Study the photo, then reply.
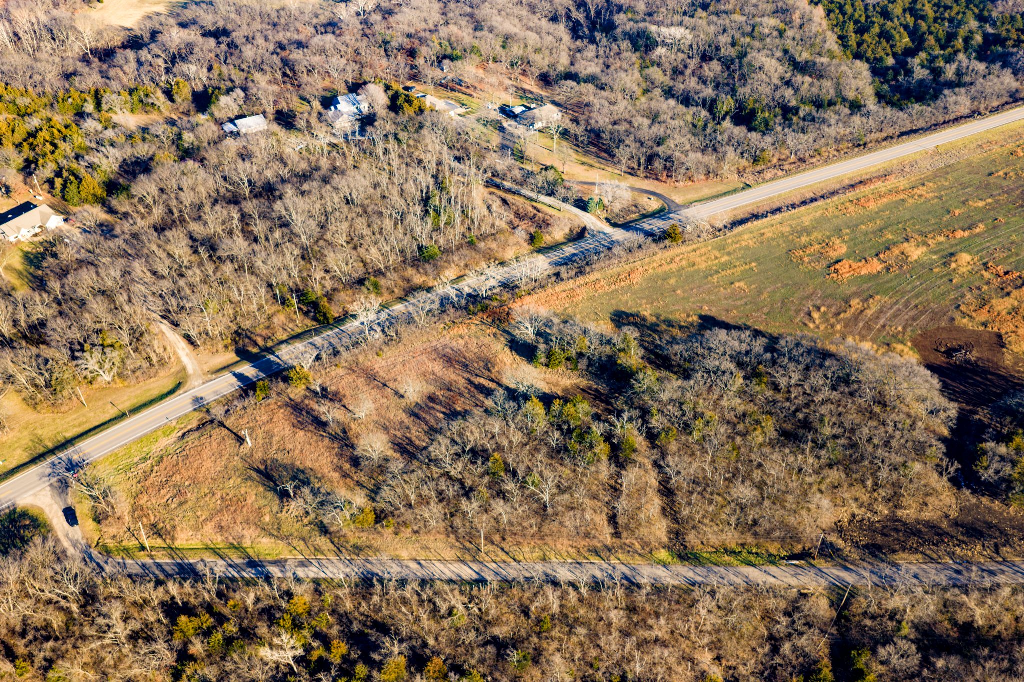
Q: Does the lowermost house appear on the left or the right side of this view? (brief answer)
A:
left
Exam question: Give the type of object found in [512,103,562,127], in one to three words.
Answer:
house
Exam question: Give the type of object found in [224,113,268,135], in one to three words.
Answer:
barn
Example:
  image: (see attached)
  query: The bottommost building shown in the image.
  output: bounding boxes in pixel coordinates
[0,203,65,248]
